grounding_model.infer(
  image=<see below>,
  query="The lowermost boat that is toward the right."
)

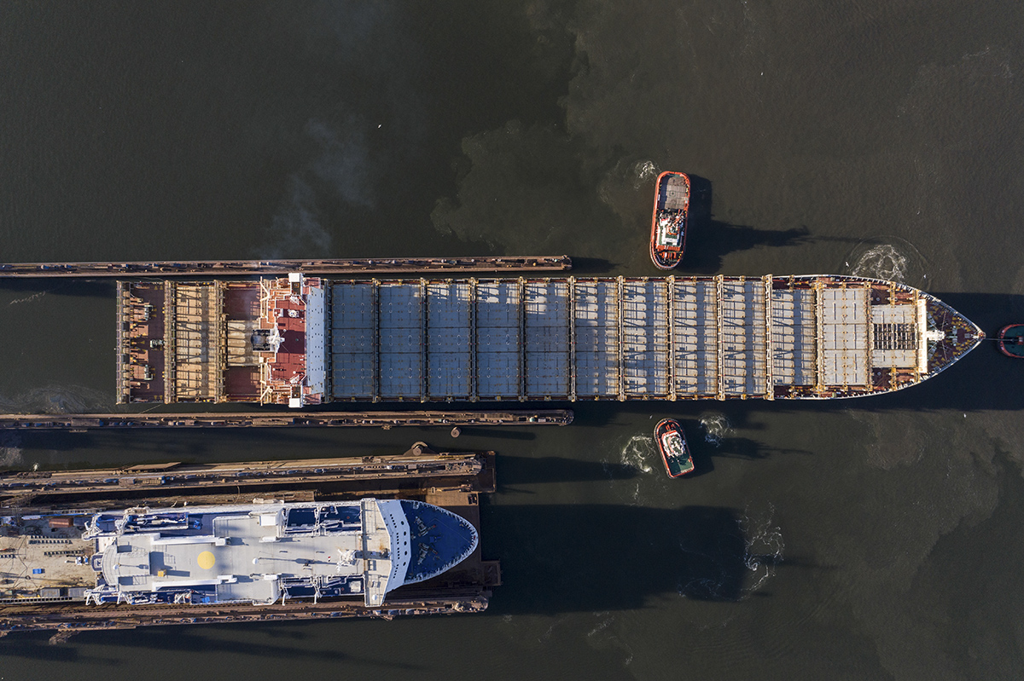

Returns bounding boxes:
[654,416,701,483]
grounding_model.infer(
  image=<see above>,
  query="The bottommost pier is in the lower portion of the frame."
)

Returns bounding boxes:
[0,436,503,639]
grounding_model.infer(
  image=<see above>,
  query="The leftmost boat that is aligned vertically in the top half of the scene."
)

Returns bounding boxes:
[648,171,693,270]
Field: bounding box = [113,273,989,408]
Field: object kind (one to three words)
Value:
ship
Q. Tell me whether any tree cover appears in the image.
No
